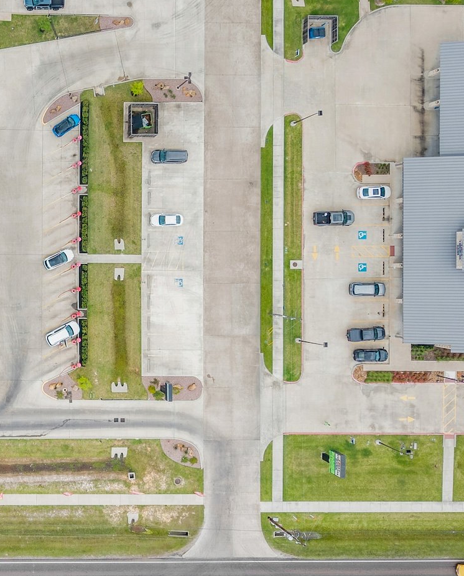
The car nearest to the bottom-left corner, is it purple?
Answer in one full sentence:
No, from above the car nearest to the bottom-left corner looks white.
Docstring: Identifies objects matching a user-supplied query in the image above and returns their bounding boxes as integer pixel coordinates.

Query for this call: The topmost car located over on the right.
[356,183,391,199]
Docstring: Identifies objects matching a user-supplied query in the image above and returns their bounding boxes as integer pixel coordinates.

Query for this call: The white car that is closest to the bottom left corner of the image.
[45,321,80,346]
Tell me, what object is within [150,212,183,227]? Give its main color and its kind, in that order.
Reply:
white car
